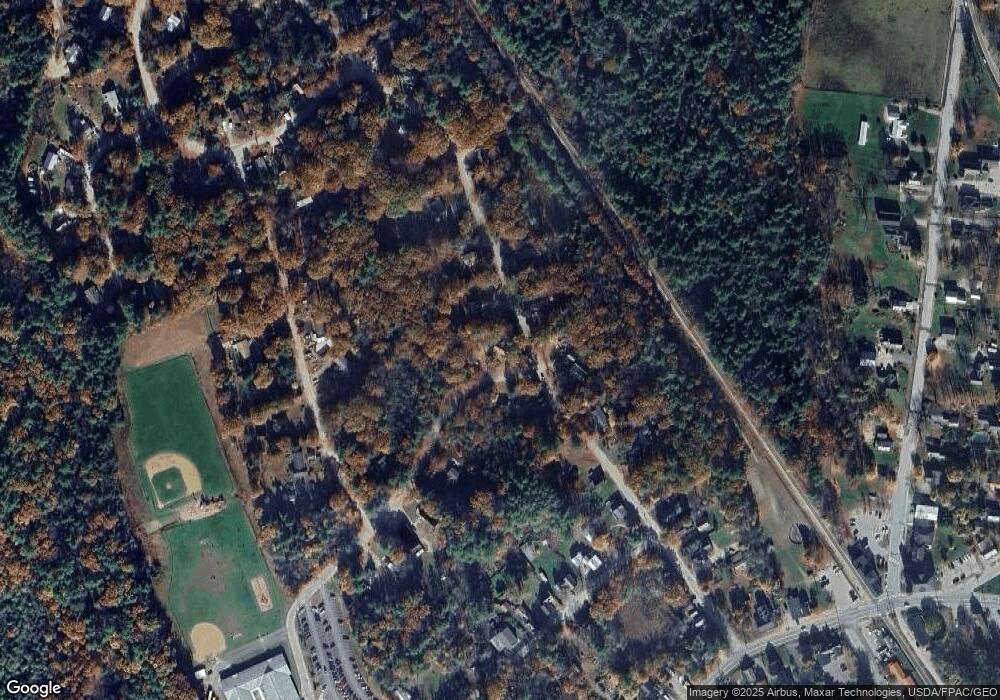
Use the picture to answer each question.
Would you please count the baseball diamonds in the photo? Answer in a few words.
2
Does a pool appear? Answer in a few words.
No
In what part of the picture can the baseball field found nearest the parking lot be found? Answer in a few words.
bottom left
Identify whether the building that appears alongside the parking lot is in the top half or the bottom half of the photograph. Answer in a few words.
bottom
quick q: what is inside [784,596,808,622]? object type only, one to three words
building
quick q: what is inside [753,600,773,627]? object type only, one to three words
house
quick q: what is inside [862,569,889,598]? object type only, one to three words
building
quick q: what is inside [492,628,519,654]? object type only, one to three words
house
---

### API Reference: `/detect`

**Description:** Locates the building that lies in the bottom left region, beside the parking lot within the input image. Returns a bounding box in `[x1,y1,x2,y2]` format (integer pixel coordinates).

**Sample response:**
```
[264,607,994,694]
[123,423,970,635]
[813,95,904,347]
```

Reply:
[221,655,306,700]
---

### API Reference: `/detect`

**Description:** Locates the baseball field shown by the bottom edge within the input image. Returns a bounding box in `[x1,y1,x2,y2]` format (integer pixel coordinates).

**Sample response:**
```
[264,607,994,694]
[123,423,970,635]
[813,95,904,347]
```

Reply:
[167,499,287,667]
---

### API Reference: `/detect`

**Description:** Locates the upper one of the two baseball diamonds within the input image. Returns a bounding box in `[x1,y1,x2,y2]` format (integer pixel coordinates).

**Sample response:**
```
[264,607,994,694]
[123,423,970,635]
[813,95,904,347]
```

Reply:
[126,354,235,514]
